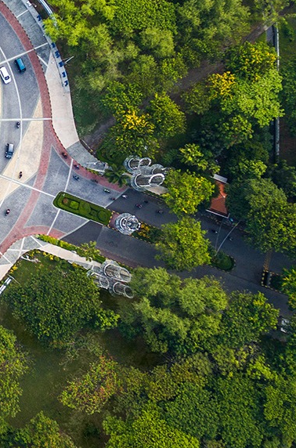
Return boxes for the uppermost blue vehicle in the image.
[14,54,28,74]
